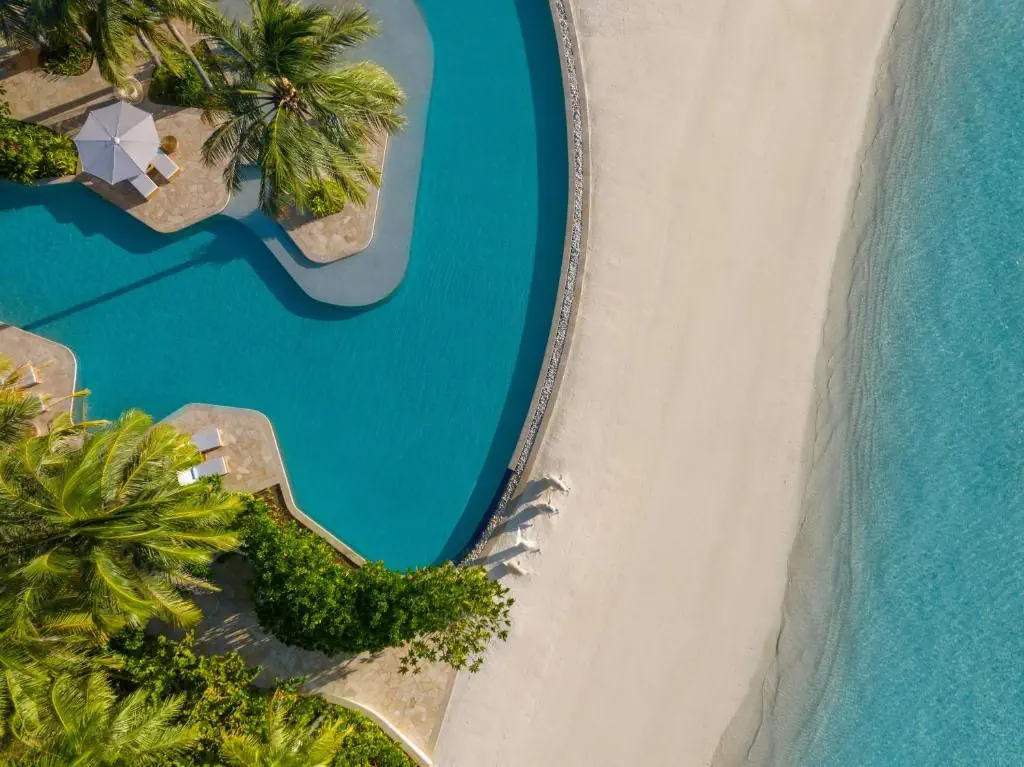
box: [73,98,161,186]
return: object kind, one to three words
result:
umbrella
